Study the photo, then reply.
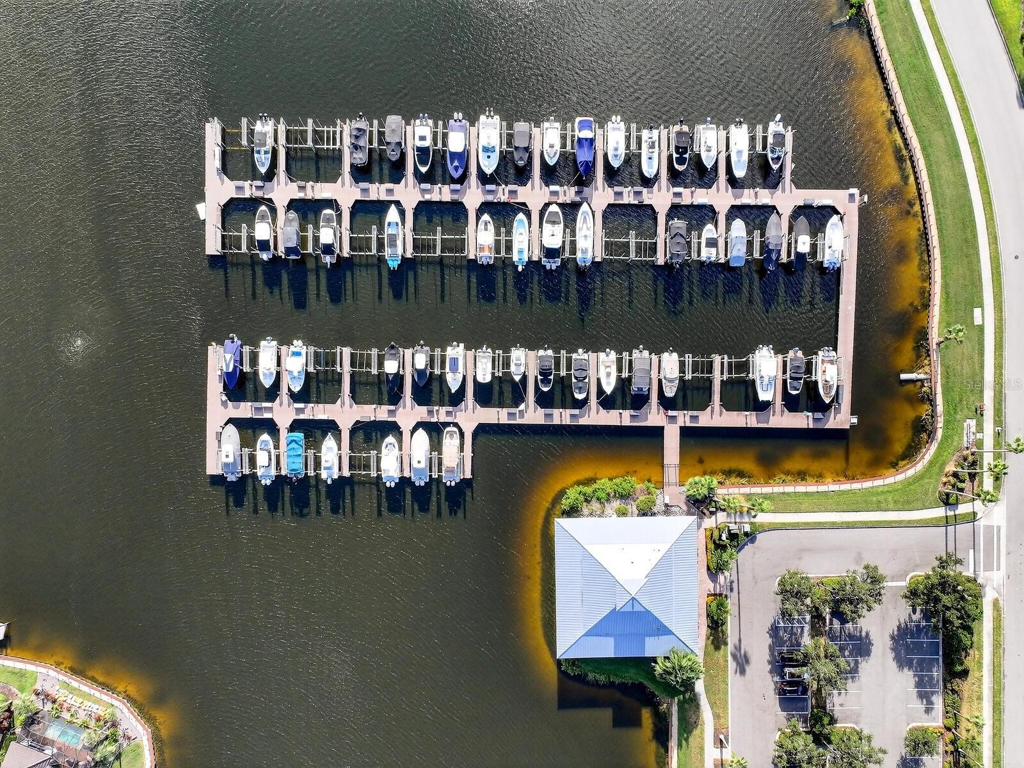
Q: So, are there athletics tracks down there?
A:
No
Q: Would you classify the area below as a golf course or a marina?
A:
marina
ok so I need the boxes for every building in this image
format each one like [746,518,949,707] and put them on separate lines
[554,513,700,659]
[0,738,60,768]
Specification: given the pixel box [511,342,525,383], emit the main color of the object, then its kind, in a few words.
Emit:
white boat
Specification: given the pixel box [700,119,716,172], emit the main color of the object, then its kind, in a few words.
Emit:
white boat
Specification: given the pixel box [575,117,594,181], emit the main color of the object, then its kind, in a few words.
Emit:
blue boat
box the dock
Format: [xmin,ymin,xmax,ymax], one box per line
[203,121,862,487]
